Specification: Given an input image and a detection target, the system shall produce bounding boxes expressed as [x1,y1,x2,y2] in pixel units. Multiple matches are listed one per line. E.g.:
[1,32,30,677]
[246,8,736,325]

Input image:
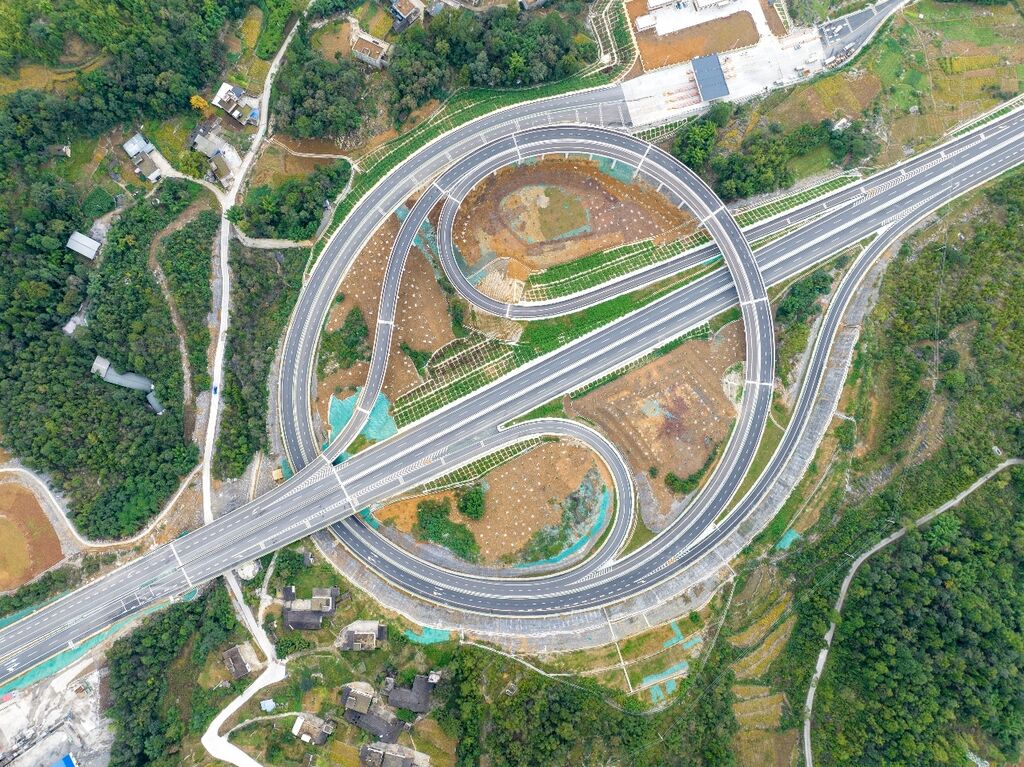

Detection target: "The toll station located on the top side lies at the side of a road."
[624,26,825,127]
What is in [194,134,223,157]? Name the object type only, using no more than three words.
house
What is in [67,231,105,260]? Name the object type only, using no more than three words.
shed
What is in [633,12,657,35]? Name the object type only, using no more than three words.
building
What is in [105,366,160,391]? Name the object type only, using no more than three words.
building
